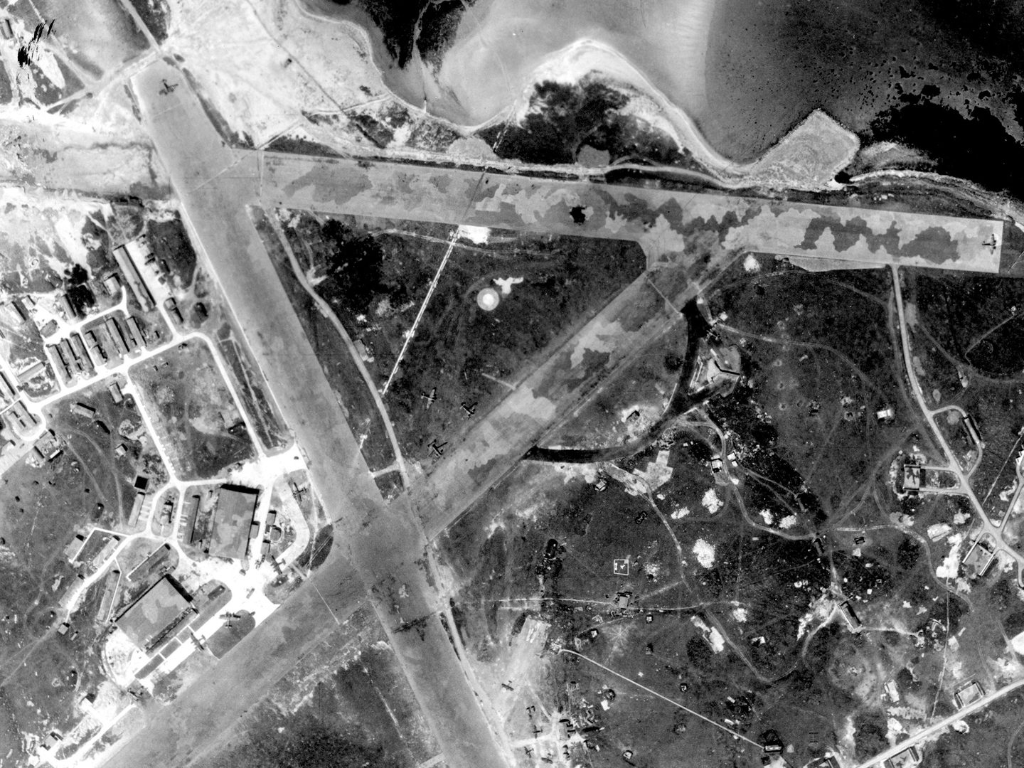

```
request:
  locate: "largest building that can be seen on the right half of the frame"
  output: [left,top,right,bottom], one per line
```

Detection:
[904,459,925,495]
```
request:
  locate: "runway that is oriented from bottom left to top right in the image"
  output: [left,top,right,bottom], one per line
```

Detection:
[100,254,739,768]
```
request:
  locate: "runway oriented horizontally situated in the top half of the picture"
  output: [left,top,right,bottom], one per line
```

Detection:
[230,146,1003,274]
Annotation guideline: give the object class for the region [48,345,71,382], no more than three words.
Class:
shed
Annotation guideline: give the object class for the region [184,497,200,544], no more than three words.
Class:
building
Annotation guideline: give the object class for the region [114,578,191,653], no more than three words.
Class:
hangar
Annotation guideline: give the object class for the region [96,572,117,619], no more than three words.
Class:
shed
